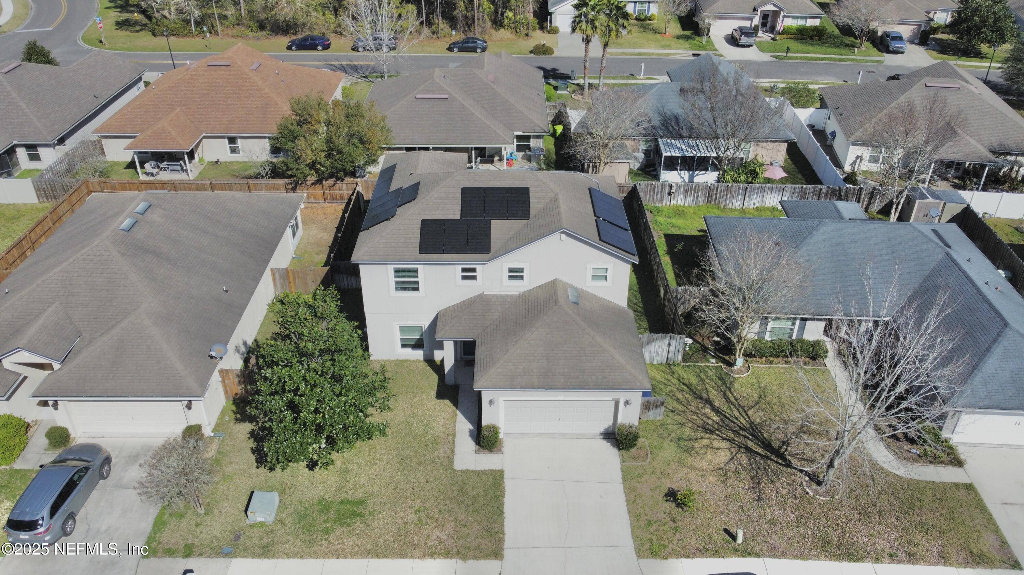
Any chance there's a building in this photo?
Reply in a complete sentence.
Yes, there is a building in the image.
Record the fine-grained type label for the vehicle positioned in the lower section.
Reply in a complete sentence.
I'd identify the vehicle positioned in the lower section as an automobile.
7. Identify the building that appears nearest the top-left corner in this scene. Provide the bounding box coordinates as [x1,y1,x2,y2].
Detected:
[0,48,146,177]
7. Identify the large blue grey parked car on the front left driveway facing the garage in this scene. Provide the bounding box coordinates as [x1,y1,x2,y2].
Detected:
[4,448,110,551]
